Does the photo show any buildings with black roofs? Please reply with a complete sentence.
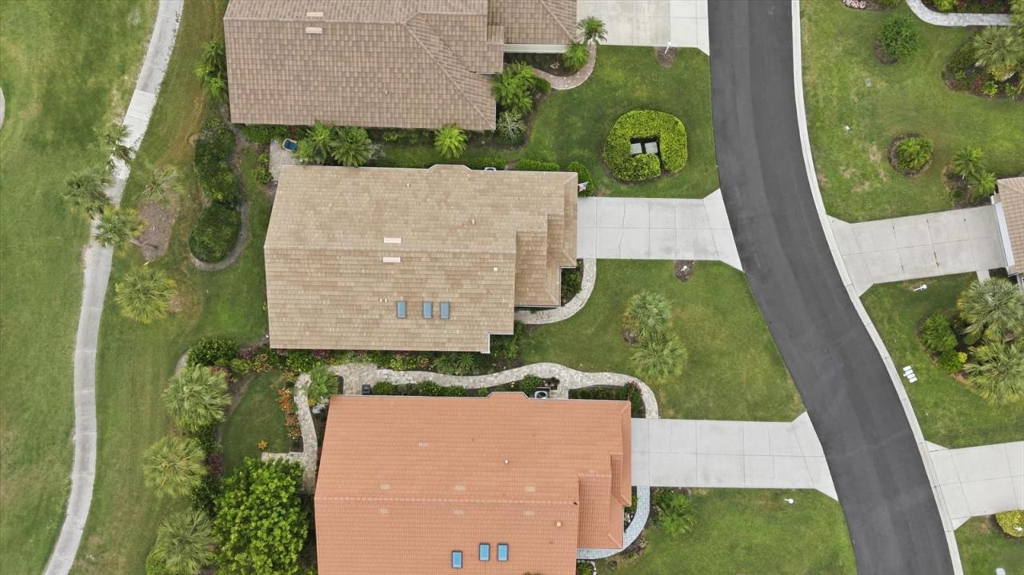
No, there is no building with a black roof in the image.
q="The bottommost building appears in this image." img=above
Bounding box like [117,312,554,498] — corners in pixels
[314,391,632,575]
